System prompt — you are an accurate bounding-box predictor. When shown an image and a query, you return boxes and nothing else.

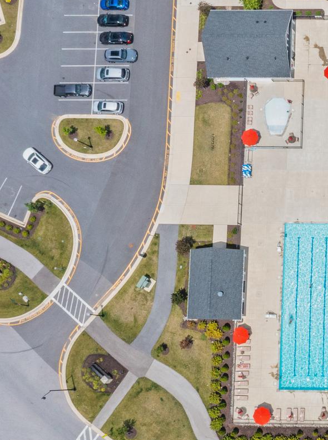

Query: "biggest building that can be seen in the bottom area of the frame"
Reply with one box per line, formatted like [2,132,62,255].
[187,248,248,321]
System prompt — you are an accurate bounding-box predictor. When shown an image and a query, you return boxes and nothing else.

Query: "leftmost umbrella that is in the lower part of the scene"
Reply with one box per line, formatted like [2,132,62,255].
[233,327,250,343]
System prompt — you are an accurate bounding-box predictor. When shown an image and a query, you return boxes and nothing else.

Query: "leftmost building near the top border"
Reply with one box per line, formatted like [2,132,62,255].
[202,10,296,81]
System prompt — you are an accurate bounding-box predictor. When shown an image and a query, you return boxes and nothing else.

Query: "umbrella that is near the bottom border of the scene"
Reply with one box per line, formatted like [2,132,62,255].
[254,405,271,423]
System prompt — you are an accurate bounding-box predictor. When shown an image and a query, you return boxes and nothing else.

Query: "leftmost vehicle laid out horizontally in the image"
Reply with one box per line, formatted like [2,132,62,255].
[52,82,95,98]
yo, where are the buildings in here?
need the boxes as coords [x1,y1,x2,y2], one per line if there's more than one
[187,248,248,321]
[202,10,296,81]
